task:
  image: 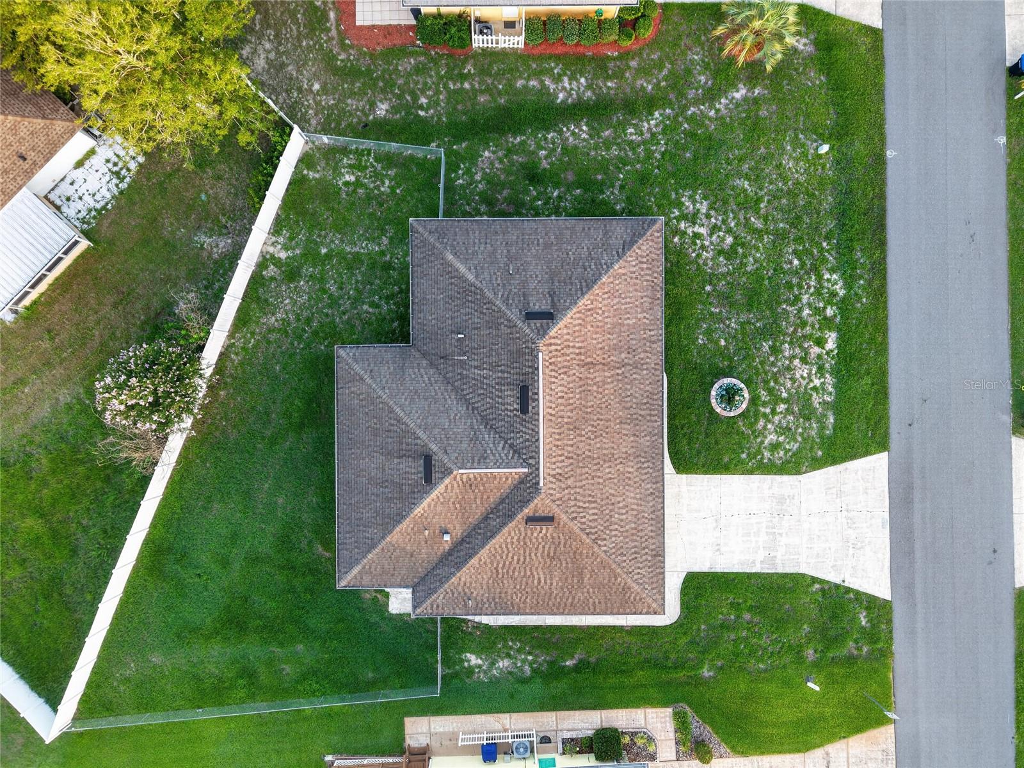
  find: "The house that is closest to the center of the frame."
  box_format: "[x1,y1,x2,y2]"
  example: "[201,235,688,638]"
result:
[334,215,667,619]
